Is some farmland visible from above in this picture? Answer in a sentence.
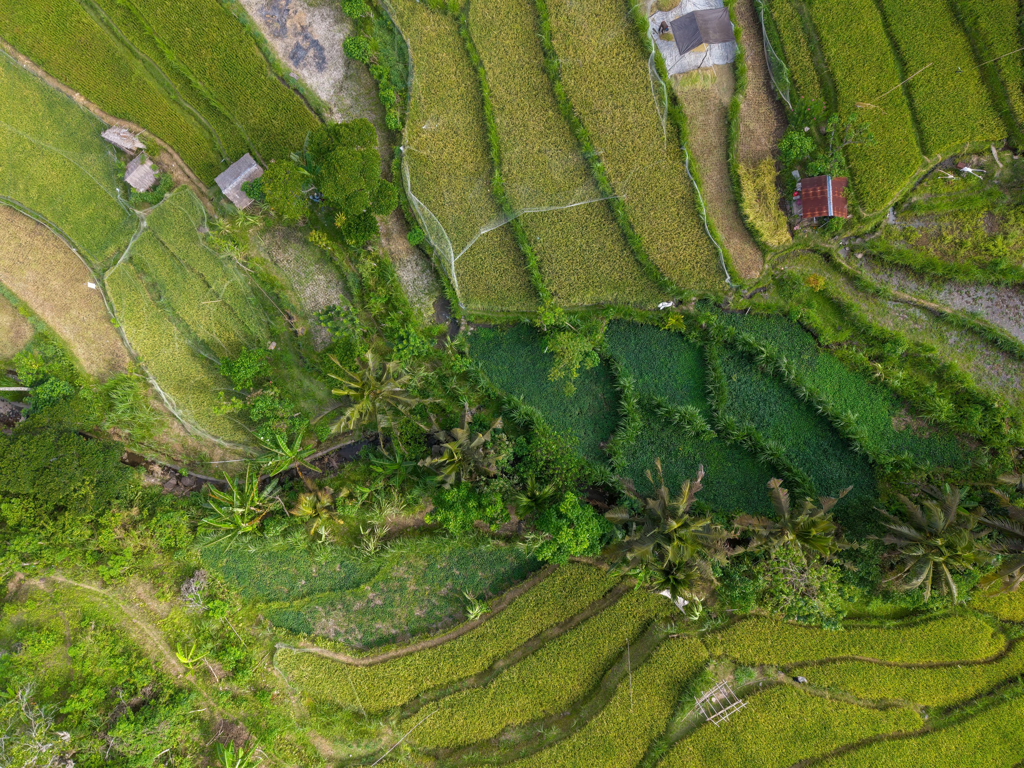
Yes, farmland shows up in the scene.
